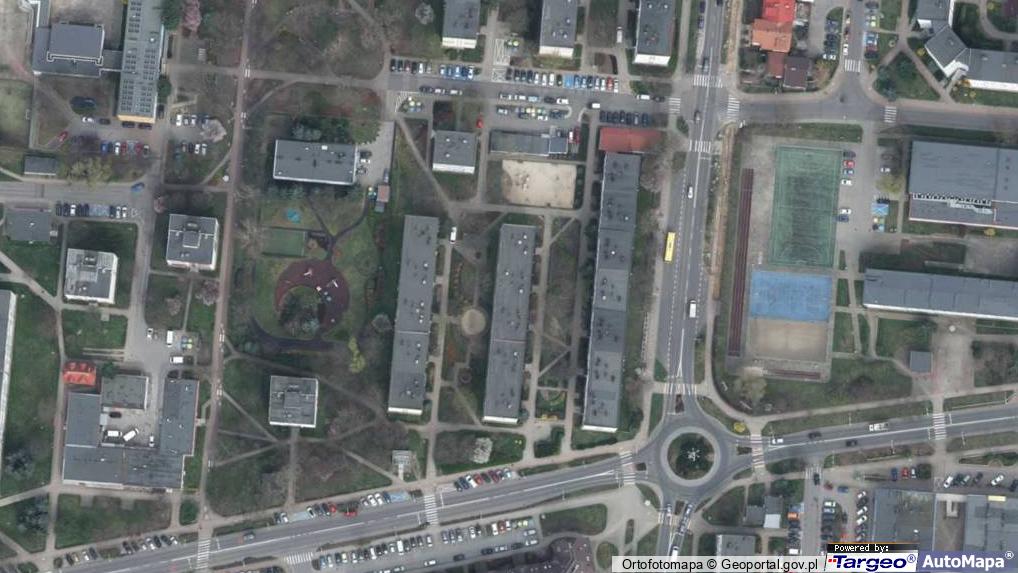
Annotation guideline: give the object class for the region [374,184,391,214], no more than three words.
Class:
shed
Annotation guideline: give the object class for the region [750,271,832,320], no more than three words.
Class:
sports court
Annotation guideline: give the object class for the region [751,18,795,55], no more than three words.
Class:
house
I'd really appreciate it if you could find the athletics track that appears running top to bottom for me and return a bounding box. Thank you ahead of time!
[727,168,754,356]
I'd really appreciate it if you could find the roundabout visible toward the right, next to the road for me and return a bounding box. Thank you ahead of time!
[619,384,752,532]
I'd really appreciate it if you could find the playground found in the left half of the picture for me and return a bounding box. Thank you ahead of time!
[262,247,352,340]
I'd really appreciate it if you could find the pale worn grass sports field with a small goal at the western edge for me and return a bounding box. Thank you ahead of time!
[0,82,29,138]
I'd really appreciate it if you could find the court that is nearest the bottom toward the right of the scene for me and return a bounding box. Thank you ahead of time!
[747,319,828,361]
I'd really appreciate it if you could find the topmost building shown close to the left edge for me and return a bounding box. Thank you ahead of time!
[33,0,166,124]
